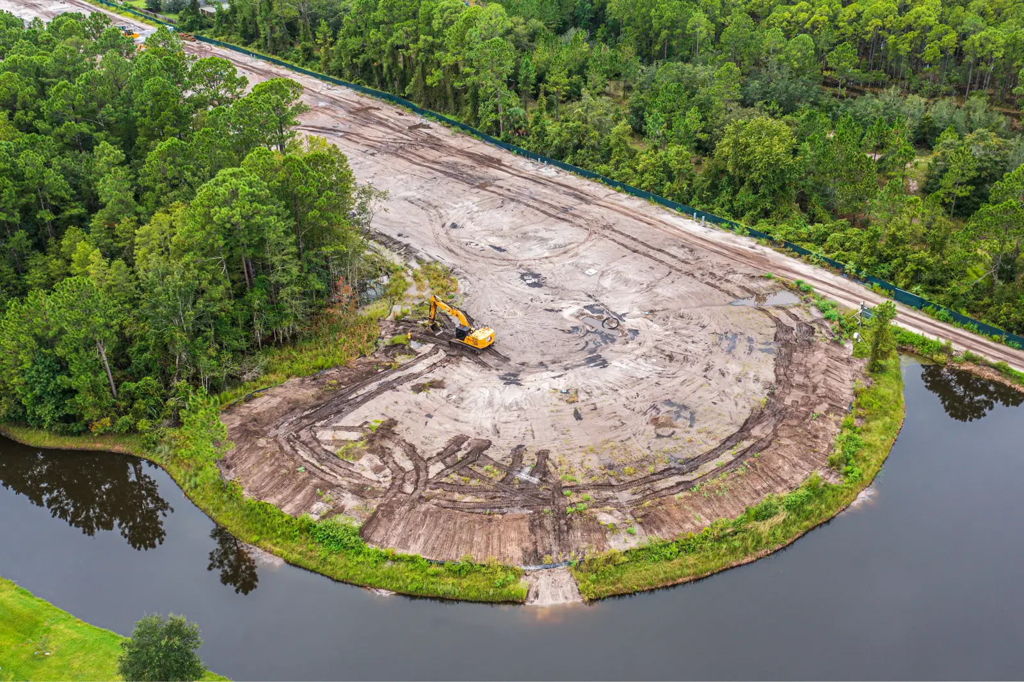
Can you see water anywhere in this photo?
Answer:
Yes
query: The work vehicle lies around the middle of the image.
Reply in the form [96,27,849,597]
[430,302,496,361]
